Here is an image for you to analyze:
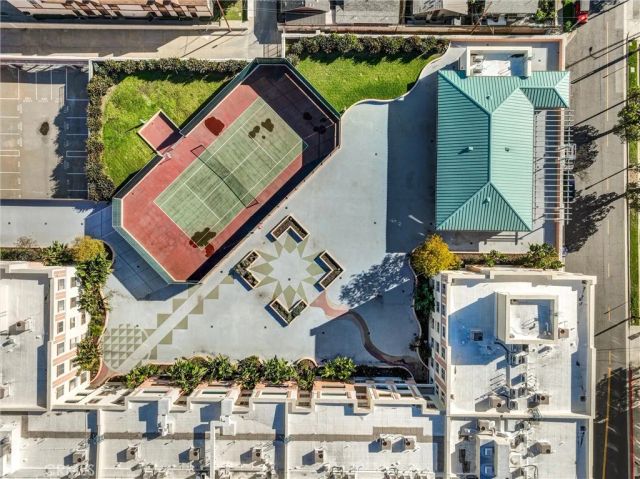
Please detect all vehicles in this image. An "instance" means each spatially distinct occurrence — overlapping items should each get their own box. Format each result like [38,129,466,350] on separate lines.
[577,0,594,23]
[565,169,580,199]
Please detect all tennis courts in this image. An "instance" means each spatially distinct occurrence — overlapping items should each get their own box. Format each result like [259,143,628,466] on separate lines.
[122,64,342,285]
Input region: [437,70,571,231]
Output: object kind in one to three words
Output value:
building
